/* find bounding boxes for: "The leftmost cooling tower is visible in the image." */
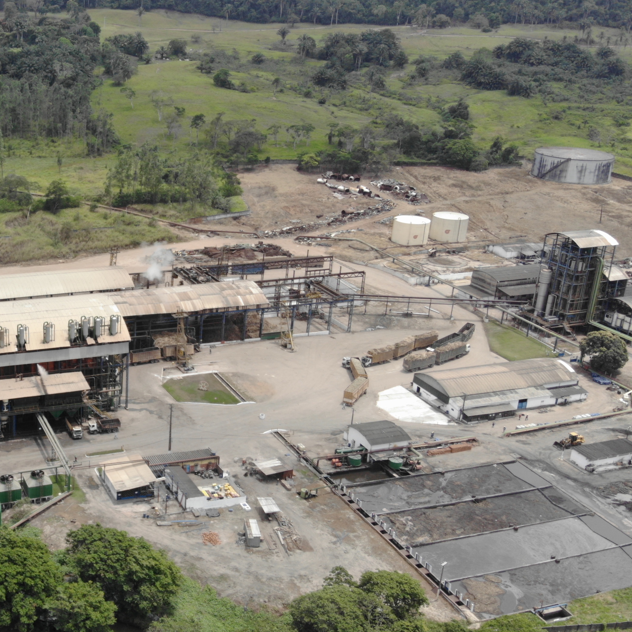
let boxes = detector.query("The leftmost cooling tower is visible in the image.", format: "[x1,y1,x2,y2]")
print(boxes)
[0,471,23,510]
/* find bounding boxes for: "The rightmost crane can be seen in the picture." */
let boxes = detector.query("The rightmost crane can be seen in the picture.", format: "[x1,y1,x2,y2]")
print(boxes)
[301,272,354,302]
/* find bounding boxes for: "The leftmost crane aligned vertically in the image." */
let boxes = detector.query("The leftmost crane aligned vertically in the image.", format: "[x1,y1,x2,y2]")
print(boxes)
[174,321,198,372]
